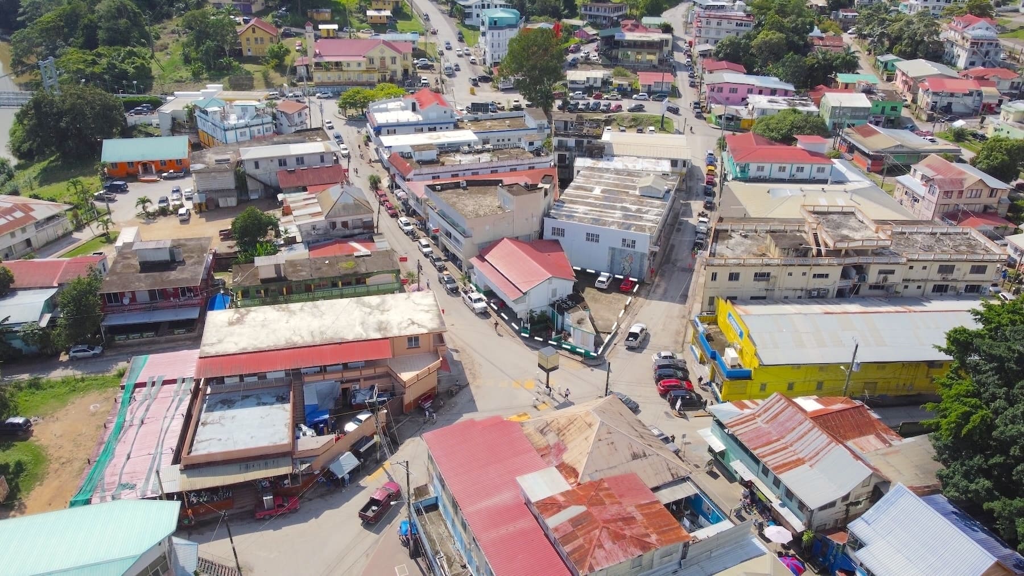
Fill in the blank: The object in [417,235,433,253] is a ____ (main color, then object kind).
white vehicle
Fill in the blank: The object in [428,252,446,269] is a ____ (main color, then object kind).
gray car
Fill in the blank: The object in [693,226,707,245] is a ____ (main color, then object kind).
gray vehicle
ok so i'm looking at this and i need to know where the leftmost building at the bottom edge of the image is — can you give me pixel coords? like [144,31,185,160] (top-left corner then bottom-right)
[0,500,181,576]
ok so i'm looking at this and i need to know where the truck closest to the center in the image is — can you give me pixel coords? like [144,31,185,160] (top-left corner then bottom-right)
[462,288,487,311]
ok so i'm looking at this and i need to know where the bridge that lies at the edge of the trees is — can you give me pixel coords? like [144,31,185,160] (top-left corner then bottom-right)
[0,60,166,116]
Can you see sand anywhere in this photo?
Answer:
No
